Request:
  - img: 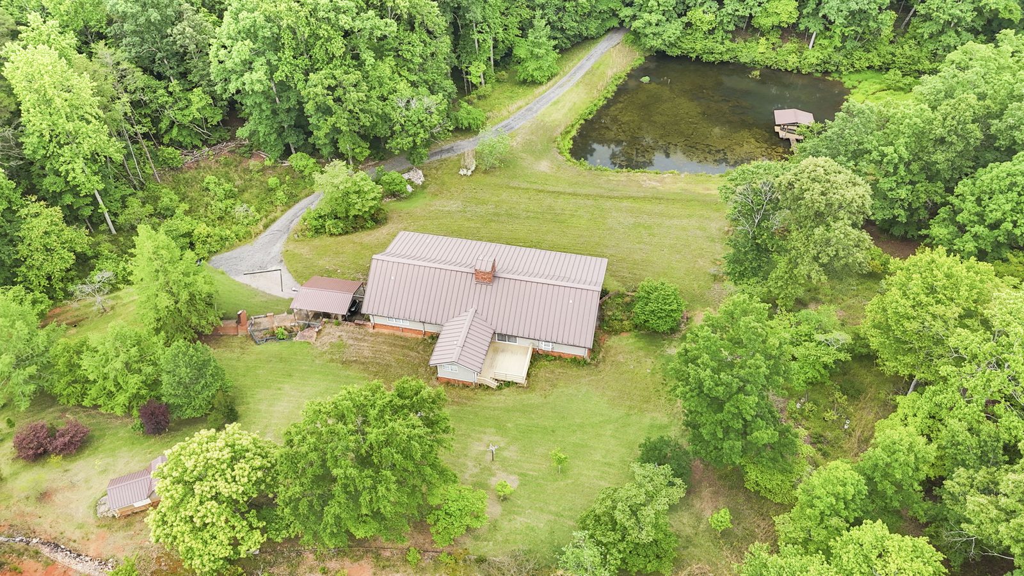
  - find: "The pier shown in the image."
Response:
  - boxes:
[771,107,815,153]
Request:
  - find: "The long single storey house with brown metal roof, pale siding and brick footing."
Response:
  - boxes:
[362,230,606,392]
